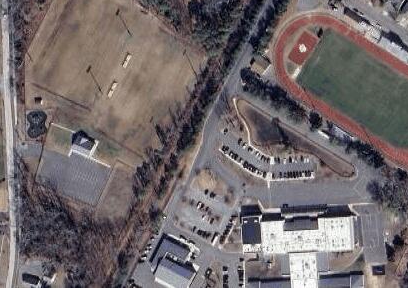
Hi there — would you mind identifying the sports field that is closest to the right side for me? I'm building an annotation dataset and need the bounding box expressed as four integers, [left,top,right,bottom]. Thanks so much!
[283,25,408,149]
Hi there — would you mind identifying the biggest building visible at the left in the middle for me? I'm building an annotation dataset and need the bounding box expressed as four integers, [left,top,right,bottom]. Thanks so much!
[72,134,98,157]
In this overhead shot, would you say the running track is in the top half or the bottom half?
top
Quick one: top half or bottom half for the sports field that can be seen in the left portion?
top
